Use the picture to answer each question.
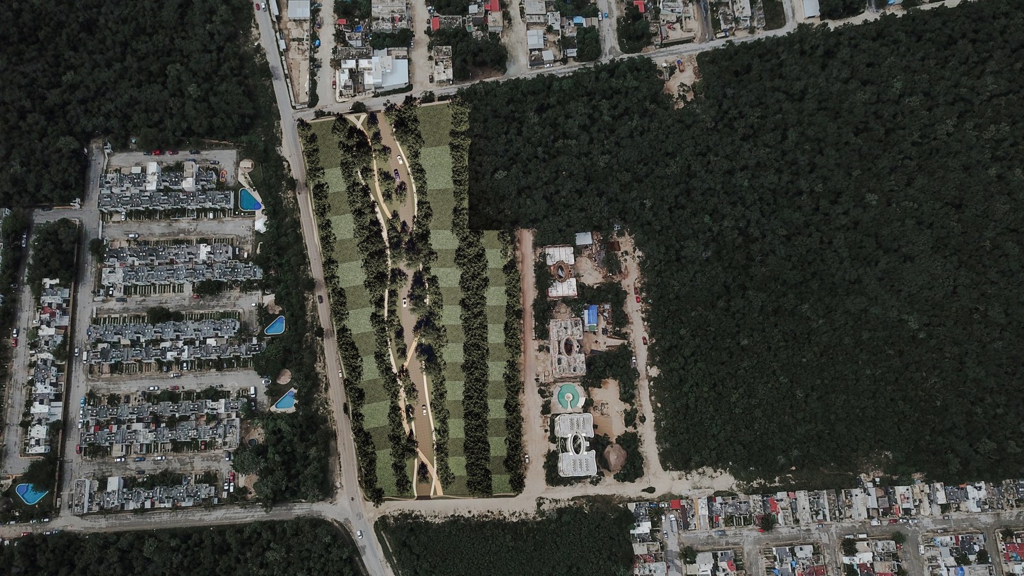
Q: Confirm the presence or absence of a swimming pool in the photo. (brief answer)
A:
Yes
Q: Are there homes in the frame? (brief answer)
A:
Yes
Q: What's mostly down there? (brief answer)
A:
trees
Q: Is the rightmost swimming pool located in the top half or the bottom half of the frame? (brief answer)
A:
bottom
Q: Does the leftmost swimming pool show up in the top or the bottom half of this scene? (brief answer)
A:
bottom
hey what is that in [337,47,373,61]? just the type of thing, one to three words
shed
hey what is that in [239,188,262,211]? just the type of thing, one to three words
swimming pool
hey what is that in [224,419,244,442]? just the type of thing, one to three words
house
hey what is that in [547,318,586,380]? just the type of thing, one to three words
building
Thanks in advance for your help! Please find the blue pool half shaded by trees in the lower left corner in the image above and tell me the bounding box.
[16,484,49,505]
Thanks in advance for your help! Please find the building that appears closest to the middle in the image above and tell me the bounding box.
[545,246,577,301]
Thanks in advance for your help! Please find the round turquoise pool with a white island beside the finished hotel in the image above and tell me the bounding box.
[557,385,580,410]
